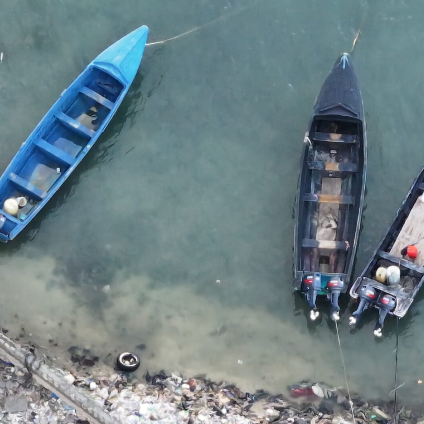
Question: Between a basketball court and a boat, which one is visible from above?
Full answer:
The one in the frame is a boat.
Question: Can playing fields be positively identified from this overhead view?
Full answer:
No, I find no playing field anywhere in the image.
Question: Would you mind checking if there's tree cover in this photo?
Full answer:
No, there is no tree cover in the image.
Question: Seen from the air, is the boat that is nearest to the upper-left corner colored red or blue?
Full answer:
In this view, the boat that is nearest to the upper-left corner is blue.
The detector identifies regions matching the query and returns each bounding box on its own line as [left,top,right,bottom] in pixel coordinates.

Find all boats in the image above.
[347,167,424,346]
[0,23,152,252]
[294,52,365,328]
